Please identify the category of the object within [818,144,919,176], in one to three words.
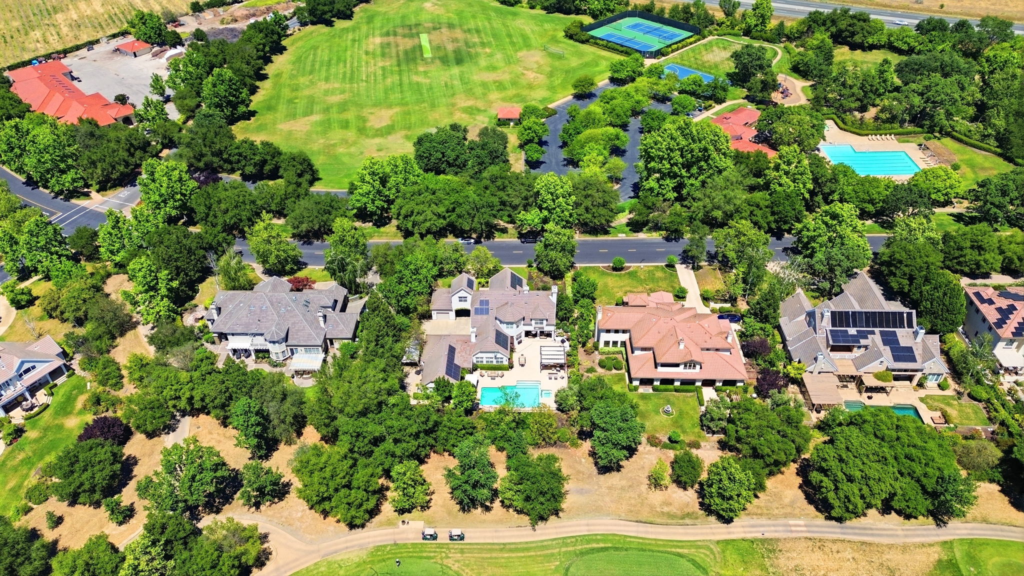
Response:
swimming pool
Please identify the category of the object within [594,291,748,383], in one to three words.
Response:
house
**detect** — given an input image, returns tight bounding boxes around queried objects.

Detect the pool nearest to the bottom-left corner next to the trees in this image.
[478,379,542,408]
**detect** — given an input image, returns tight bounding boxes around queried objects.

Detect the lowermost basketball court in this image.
[658,60,727,88]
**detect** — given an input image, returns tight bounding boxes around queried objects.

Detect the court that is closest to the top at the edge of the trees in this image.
[589,17,693,60]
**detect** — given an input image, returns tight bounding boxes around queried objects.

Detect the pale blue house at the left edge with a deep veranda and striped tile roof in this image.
[0,334,69,420]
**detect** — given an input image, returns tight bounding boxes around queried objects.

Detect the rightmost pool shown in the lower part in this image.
[843,399,924,423]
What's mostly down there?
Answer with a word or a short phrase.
trees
